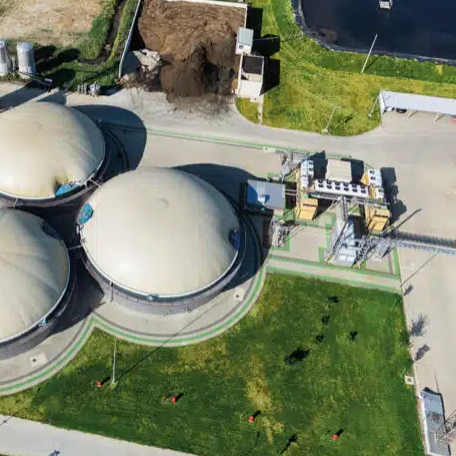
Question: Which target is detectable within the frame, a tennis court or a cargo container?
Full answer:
The image shows a cargo container.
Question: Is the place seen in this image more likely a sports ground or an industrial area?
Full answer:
It's an industrial area.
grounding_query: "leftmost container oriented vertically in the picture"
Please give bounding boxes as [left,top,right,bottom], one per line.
[295,155,321,223]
